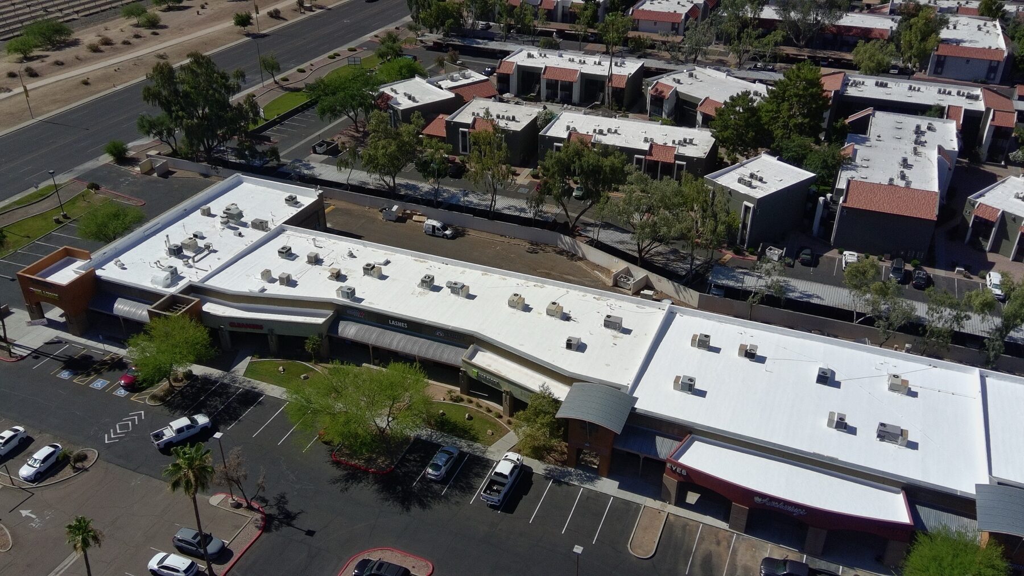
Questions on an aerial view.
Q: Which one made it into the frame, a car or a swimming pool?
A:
car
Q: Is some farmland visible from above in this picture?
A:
No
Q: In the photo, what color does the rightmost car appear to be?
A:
white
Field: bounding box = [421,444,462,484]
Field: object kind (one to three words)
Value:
car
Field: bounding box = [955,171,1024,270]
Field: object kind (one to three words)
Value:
building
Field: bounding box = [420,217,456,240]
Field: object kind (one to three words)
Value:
vehicle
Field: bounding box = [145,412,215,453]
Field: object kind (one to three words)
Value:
truck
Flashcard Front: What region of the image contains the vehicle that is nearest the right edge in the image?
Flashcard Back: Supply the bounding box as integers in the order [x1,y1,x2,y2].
[983,270,1008,297]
